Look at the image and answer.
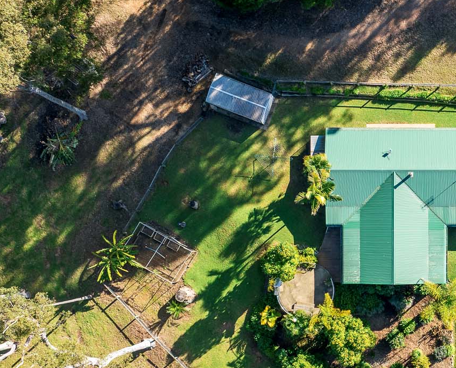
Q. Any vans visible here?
No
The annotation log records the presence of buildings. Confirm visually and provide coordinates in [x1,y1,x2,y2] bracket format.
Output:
[325,126,456,285]
[204,73,277,126]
